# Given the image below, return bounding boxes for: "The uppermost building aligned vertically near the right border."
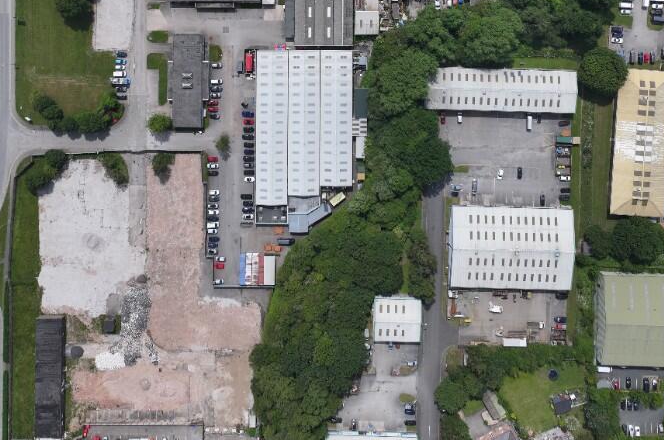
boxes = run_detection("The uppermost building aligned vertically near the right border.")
[605,70,664,217]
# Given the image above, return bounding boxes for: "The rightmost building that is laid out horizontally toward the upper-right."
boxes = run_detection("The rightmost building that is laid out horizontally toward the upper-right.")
[426,67,578,113]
